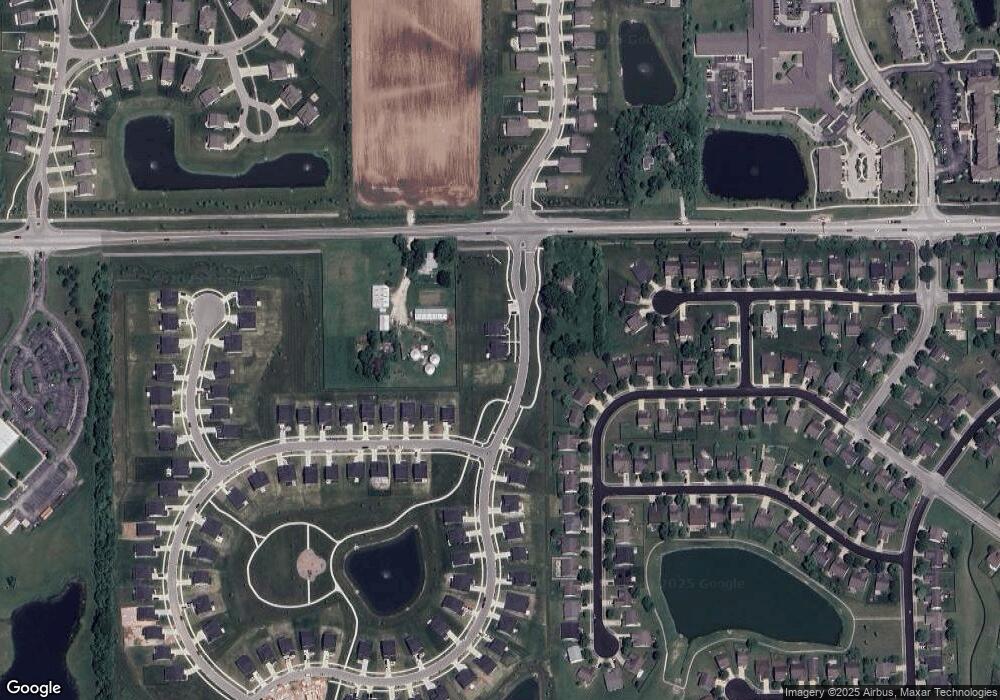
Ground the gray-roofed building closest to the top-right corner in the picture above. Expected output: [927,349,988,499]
[933,0,967,51]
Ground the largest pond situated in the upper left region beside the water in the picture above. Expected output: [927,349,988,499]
[123,113,331,191]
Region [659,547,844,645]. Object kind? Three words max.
pond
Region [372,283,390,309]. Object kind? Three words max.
barn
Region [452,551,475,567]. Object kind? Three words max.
house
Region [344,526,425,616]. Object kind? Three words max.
pond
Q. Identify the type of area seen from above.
residential area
